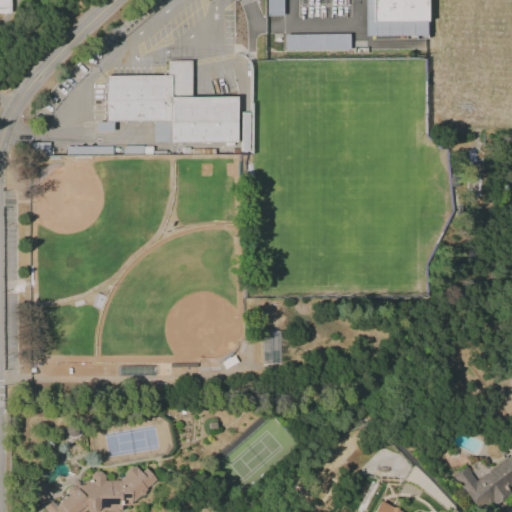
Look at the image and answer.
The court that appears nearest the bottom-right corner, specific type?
tennis court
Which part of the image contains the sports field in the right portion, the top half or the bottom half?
top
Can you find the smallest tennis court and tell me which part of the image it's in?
bottom left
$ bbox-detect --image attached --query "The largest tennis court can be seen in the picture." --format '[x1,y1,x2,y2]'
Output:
[222,418,296,484]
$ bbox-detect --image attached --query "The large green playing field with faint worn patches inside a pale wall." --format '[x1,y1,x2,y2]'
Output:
[246,60,454,297]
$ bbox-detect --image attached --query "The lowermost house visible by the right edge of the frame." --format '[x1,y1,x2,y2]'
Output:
[448,459,512,510]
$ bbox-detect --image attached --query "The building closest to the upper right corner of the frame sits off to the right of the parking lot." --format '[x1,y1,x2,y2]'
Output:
[368,0,432,36]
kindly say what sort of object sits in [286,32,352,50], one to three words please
shed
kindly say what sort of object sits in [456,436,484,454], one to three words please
swimming pool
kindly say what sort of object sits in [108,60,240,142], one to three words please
building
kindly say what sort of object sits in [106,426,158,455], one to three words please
tennis court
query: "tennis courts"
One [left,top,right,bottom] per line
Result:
[106,426,158,455]
[222,418,296,484]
